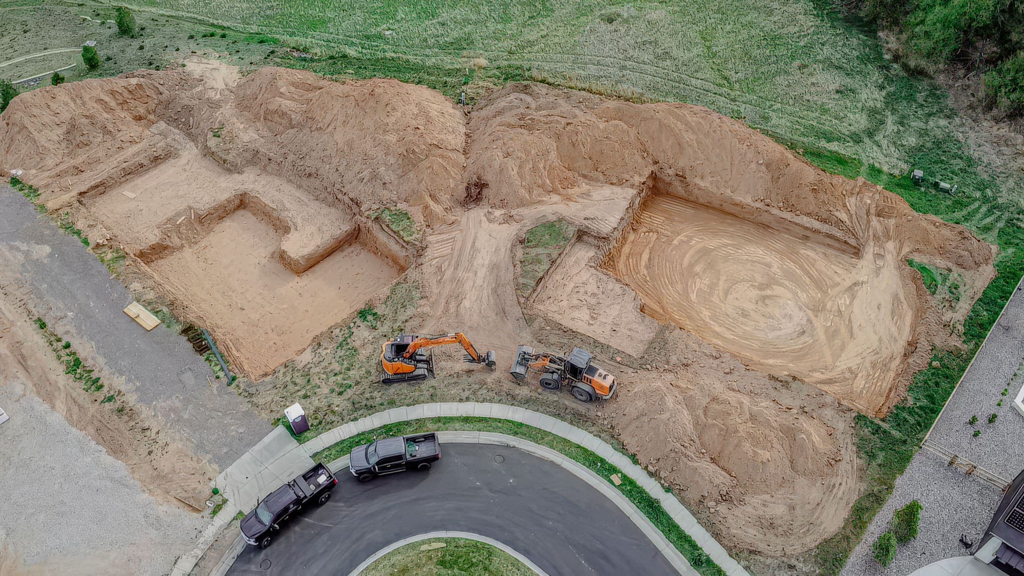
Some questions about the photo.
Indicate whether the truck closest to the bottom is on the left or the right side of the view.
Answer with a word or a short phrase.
left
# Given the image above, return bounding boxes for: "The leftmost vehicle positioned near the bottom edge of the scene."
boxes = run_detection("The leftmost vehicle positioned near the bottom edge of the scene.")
[236,464,334,553]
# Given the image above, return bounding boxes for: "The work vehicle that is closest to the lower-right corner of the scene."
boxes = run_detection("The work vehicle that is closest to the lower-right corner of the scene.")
[509,346,616,403]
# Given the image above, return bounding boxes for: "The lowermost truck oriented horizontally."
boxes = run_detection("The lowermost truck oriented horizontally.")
[349,429,441,481]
